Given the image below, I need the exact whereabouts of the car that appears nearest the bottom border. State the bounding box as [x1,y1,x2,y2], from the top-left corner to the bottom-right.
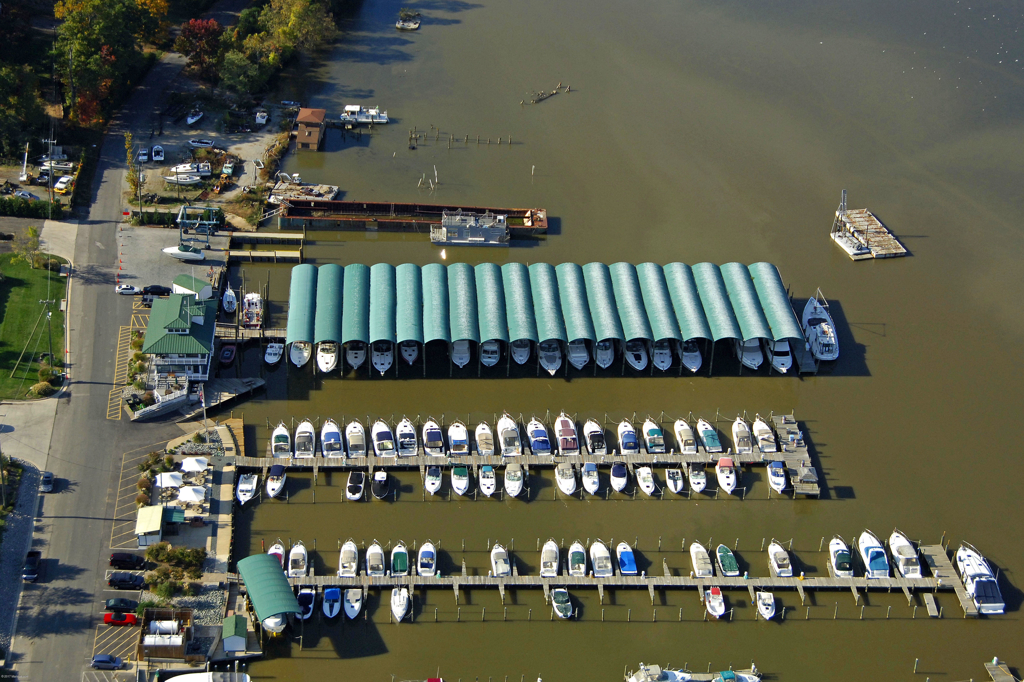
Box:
[90,656,124,672]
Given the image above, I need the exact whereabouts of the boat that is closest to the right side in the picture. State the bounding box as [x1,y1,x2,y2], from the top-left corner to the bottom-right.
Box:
[957,537,1005,614]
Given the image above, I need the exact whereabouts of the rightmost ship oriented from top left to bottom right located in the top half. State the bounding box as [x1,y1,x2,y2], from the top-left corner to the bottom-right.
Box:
[836,209,906,260]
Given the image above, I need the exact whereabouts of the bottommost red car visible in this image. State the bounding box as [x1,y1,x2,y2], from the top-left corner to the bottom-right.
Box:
[103,613,138,628]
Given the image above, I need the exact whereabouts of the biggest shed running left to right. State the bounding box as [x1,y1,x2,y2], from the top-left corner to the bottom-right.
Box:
[286,261,807,378]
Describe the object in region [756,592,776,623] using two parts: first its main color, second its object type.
white boat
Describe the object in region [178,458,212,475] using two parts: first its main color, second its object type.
white tent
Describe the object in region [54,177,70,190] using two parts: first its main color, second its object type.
white vehicle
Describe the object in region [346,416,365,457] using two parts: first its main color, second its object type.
white boat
